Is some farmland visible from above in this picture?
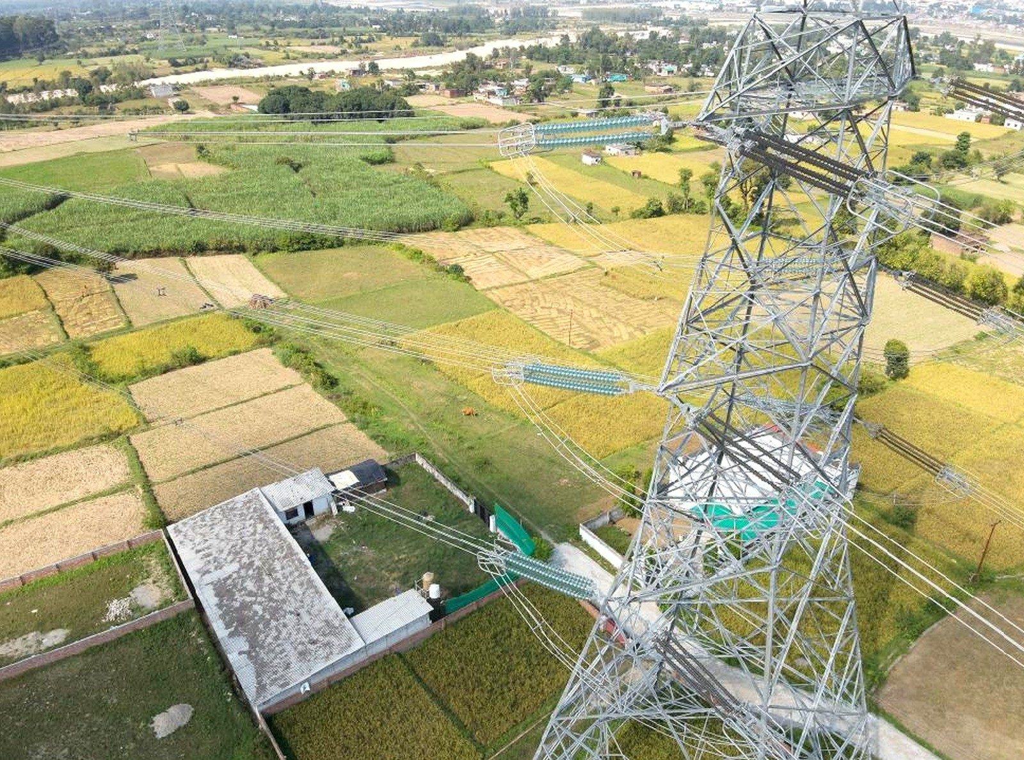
Yes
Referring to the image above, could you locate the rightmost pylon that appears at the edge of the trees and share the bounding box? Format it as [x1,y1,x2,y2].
[532,0,929,760]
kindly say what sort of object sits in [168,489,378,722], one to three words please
shed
